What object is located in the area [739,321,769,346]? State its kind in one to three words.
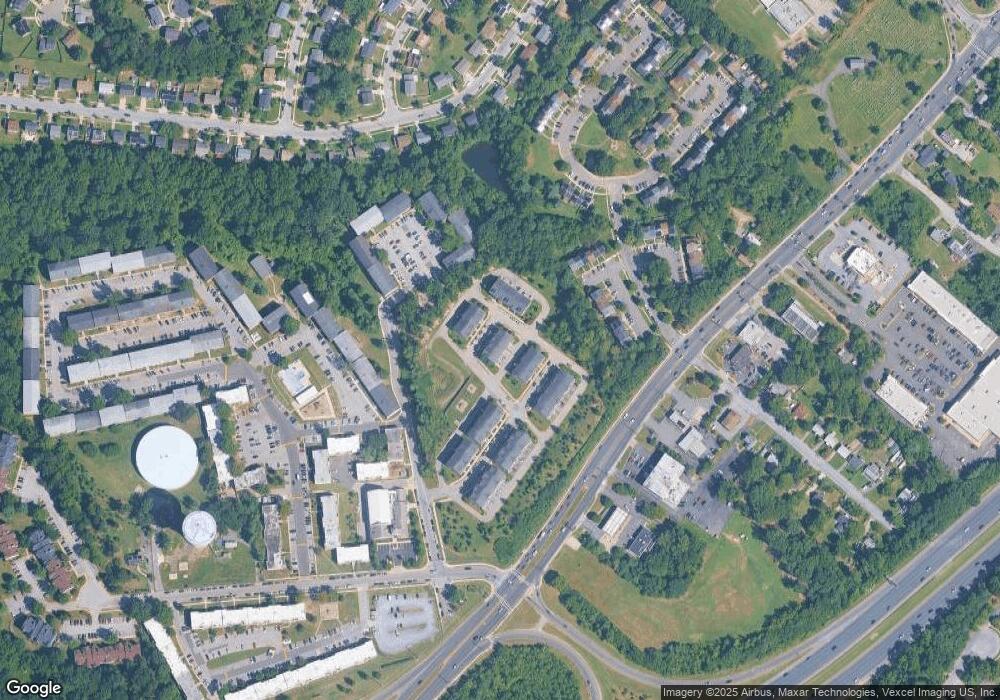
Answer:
building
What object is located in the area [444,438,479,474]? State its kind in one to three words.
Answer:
building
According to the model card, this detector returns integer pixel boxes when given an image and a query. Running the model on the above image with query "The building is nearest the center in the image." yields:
[479,328,517,367]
